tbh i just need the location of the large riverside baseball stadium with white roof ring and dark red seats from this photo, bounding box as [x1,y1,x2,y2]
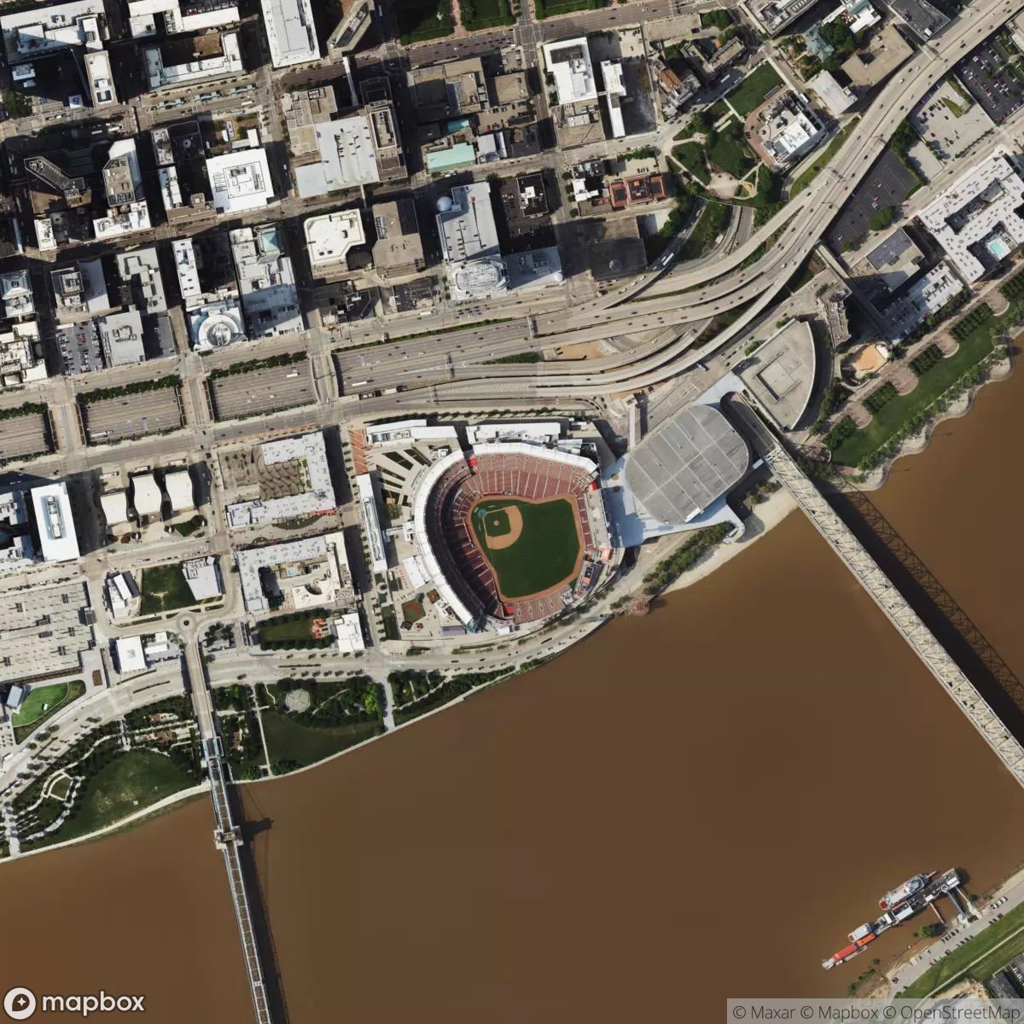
[415,440,614,635]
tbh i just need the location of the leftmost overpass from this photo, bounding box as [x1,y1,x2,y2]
[48,390,87,454]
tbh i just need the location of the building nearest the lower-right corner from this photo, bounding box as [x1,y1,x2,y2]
[990,972,1024,1023]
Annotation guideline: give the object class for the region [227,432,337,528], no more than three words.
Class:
building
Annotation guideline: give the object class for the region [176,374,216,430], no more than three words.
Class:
overpass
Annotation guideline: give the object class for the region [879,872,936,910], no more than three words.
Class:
boat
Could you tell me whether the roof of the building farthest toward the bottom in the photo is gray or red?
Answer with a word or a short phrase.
gray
